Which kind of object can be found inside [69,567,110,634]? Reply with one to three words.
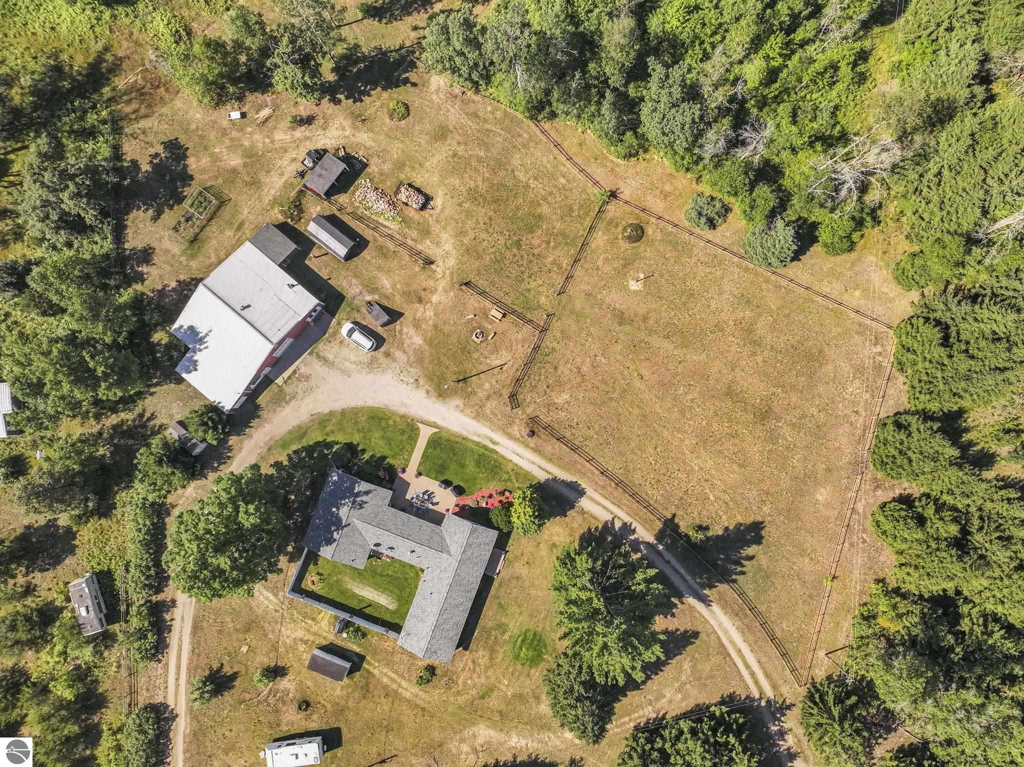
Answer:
vehicle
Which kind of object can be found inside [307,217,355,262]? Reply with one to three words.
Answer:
shed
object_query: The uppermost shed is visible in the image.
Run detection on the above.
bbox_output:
[304,153,348,196]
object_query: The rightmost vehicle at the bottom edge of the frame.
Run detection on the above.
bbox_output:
[263,734,324,767]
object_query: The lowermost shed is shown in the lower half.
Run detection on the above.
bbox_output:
[307,644,353,682]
